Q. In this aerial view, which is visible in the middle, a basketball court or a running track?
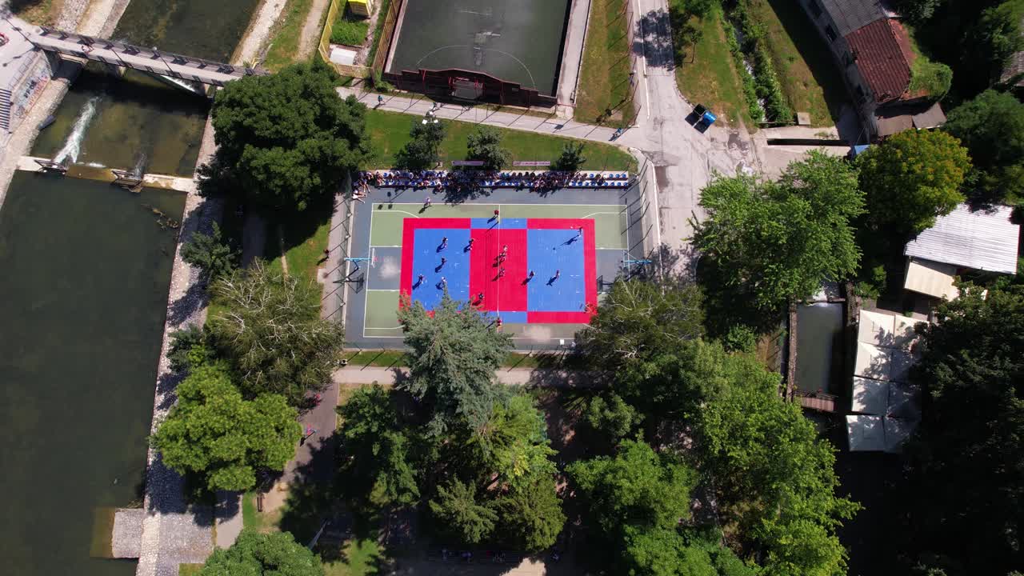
basketball court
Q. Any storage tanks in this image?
No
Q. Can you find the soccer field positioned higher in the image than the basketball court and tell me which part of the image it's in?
top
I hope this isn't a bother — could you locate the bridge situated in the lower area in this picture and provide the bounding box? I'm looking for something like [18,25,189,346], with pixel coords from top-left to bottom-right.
[789,395,840,412]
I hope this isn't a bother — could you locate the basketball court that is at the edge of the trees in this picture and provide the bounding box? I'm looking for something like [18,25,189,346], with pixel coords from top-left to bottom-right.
[345,184,646,353]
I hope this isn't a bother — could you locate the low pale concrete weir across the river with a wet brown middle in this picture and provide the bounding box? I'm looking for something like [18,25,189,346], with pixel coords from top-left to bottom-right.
[14,155,194,192]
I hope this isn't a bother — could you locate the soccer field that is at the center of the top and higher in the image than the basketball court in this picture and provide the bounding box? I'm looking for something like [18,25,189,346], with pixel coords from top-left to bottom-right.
[383,0,591,120]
